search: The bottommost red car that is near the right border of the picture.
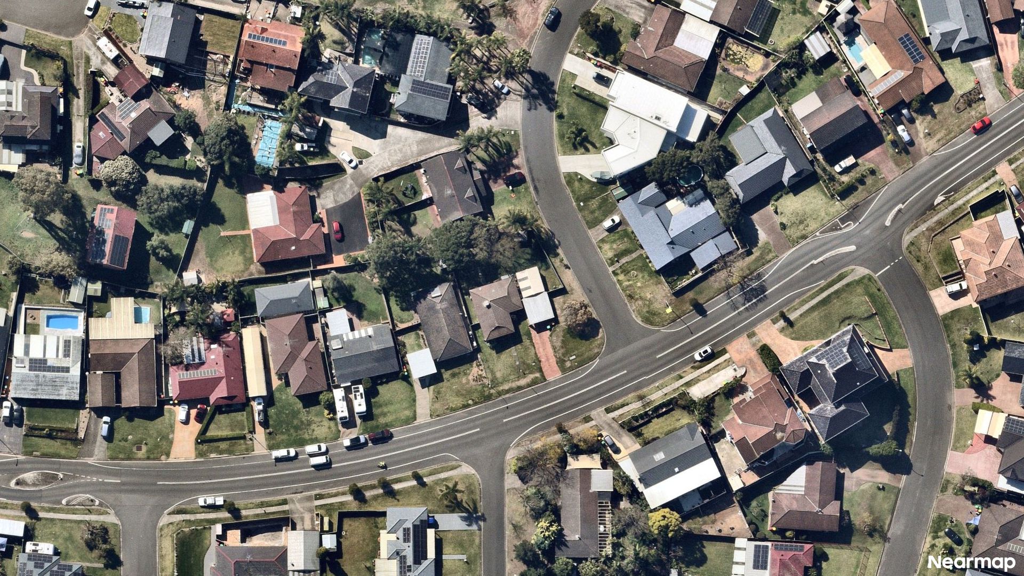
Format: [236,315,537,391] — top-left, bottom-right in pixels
[970,118,991,133]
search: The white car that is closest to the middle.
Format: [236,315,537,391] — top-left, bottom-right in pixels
[602,216,622,230]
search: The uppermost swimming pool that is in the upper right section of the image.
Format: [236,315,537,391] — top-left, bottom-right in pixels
[845,40,864,63]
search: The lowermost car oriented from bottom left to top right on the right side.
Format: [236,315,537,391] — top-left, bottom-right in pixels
[694,345,715,361]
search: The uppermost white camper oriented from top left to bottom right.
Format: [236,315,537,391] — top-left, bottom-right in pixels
[96,36,119,60]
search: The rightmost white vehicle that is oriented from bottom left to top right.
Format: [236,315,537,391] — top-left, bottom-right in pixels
[833,155,857,173]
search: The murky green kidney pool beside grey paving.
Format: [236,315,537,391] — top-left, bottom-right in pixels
[362,28,384,66]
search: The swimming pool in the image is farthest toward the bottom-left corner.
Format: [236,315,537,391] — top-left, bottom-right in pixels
[45,314,79,329]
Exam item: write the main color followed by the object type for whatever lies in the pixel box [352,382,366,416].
white camper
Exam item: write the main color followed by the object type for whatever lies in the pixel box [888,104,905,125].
black car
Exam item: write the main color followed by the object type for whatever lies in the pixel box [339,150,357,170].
white car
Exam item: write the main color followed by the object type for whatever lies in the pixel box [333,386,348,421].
white camper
